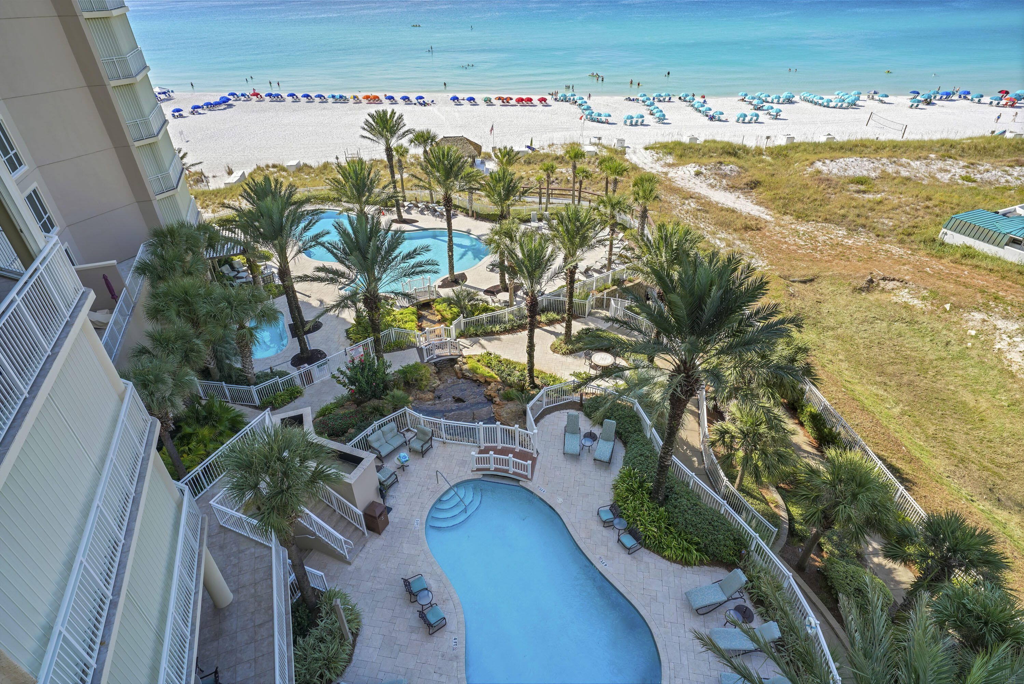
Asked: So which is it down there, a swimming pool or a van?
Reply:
swimming pool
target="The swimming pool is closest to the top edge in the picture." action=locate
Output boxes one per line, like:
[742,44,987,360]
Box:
[294,208,492,294]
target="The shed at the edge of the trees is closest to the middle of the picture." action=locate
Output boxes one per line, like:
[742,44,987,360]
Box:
[429,136,478,168]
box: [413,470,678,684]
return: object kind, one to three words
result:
swimming pool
